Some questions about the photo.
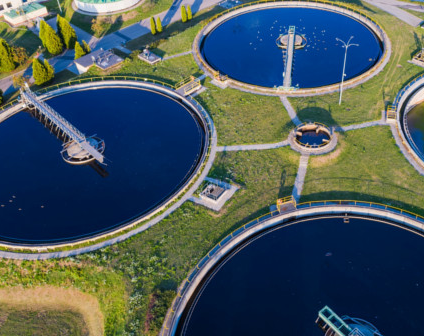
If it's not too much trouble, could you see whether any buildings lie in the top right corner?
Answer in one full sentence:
No, no building can be made out in the top right corner.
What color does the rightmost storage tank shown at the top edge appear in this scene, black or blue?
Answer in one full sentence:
From above, the rightmost storage tank shown at the top edge appears blue.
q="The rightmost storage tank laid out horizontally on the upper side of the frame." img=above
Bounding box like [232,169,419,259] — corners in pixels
[196,0,386,94]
